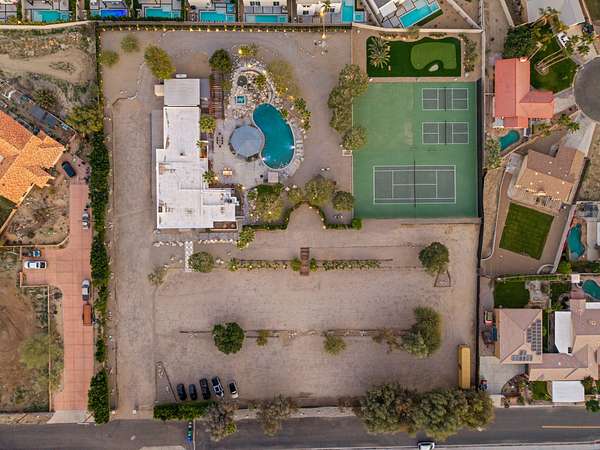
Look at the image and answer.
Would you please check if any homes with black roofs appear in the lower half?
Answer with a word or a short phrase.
No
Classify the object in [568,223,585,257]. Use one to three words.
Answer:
swimming pool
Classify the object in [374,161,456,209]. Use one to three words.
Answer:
tennis court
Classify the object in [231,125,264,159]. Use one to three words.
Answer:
gazebo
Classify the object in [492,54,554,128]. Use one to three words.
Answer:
house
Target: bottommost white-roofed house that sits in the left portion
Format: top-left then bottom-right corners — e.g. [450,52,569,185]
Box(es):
[151,107,238,230]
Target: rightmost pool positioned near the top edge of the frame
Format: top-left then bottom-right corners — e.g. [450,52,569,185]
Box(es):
[399,2,439,28]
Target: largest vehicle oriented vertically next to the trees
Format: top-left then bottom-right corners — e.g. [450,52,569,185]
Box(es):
[457,344,471,388]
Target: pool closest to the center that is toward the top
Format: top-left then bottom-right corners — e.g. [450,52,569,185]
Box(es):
[252,103,296,169]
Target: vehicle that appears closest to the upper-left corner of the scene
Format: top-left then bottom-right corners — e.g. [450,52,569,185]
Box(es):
[63,161,76,178]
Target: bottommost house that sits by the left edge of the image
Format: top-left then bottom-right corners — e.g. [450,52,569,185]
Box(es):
[0,111,70,207]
